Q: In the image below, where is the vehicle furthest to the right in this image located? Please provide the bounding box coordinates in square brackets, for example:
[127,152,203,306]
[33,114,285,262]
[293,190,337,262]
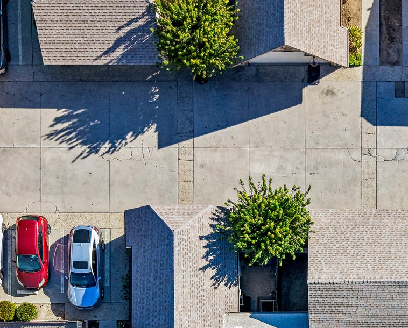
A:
[64,226,105,311]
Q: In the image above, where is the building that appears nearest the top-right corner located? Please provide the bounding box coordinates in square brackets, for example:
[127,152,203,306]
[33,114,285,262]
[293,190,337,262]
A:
[234,0,349,68]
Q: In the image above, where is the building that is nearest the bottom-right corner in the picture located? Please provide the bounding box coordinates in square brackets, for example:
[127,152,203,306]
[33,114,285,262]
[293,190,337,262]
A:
[308,209,408,328]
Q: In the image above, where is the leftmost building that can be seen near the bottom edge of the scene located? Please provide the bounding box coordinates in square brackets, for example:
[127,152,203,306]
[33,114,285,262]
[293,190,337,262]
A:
[124,203,241,328]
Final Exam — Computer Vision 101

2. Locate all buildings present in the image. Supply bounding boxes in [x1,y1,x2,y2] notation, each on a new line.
[308,209,408,328]
[234,0,349,68]
[31,0,165,66]
[124,203,241,328]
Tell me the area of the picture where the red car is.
bottom left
